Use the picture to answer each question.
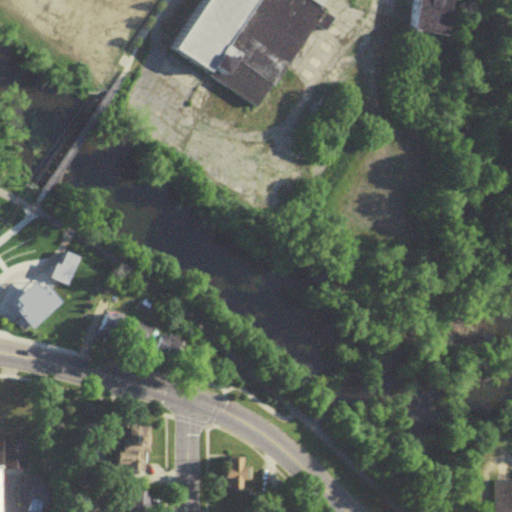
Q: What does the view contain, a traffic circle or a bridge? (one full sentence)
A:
This aerial view contains a bridge.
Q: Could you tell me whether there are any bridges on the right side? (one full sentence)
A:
No, no bridge can be made out on the right side.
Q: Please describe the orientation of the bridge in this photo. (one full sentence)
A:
Seen from above, the bridge lies diagonally.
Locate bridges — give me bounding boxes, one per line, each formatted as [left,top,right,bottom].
[20,66,127,202]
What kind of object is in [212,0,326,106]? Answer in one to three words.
building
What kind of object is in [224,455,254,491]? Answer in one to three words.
house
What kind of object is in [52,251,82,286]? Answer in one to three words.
building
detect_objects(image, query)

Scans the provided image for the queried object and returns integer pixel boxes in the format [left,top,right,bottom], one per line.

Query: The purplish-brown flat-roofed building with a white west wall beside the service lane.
[412,0,456,37]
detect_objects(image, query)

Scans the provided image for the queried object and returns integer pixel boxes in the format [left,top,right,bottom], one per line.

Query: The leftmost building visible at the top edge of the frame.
[172,0,262,73]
